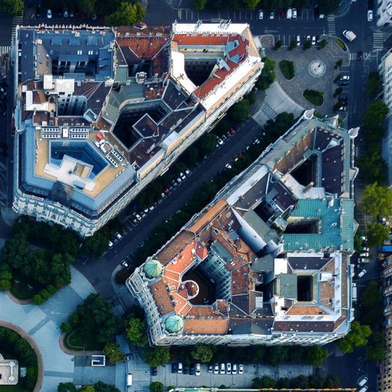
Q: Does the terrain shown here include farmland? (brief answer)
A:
No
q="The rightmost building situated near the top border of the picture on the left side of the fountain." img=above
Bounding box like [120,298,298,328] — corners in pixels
[172,18,265,135]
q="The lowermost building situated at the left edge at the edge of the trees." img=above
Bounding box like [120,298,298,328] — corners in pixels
[14,124,139,235]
